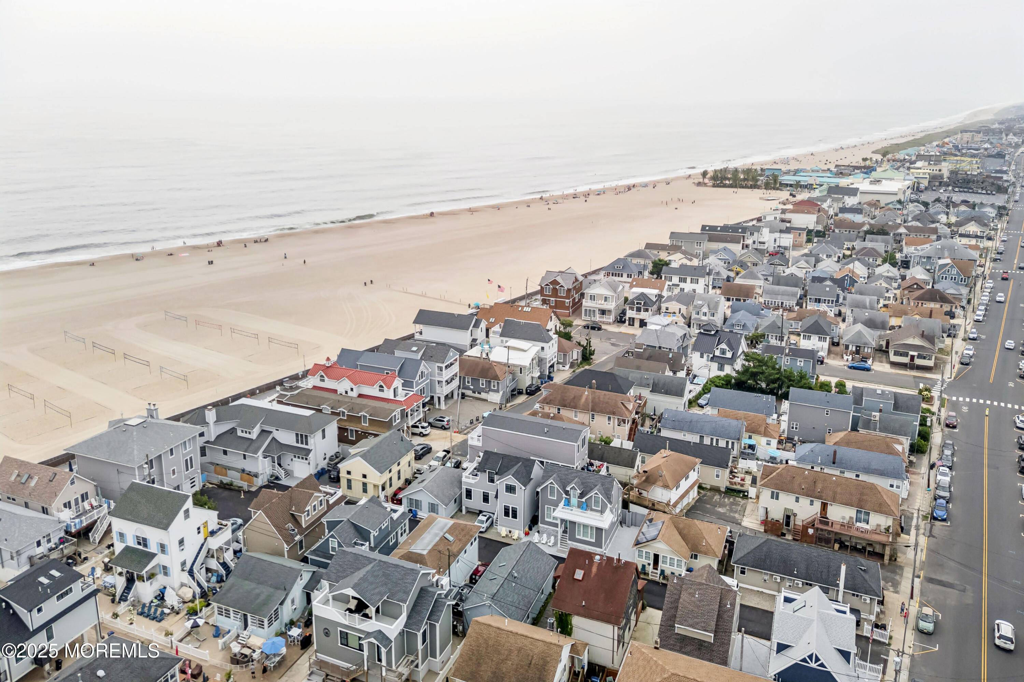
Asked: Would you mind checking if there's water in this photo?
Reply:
Yes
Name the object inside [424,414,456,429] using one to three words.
car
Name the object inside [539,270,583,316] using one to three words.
house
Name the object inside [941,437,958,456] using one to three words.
car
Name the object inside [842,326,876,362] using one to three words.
house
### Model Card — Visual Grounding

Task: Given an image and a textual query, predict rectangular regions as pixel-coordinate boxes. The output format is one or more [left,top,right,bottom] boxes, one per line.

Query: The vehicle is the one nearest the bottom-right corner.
[992,621,1018,656]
